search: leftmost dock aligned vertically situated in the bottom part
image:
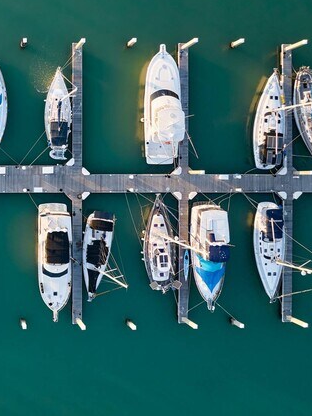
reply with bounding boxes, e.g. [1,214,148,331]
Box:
[61,194,83,325]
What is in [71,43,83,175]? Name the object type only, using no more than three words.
pier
